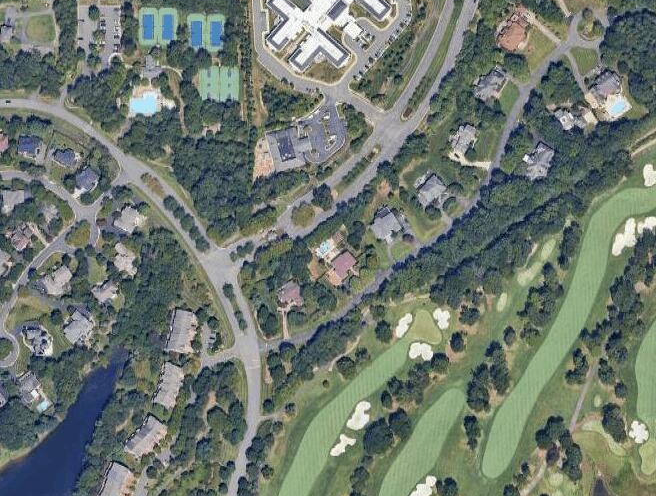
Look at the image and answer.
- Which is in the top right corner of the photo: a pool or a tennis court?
pool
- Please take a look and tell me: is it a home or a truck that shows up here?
home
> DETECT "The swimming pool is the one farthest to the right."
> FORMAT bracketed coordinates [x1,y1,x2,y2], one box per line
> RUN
[601,95,631,121]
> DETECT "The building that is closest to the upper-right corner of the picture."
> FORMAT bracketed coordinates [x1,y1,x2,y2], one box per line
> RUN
[588,63,623,101]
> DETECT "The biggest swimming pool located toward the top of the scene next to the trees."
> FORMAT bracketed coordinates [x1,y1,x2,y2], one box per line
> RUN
[128,85,173,117]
